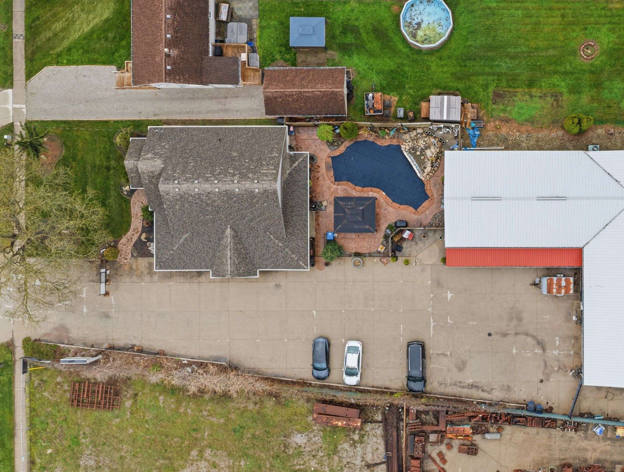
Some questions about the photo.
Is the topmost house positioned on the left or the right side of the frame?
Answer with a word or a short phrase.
left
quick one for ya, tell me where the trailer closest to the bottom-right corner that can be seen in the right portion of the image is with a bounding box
[530,274,573,296]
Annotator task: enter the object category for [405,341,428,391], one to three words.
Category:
car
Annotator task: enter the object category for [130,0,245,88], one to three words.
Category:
house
